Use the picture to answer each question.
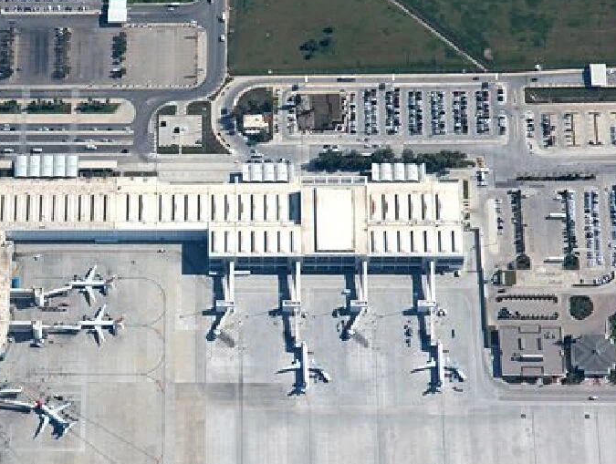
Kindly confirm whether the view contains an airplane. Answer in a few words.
Yes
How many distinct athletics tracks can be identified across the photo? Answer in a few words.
0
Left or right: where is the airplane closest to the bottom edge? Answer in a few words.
left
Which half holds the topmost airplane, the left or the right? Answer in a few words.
left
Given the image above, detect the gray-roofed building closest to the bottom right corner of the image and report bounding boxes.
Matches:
[570,337,616,376]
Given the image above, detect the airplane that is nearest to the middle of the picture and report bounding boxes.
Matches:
[277,343,331,390]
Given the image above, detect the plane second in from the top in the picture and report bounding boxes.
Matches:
[84,306,123,345]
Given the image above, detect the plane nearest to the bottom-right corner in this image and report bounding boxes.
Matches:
[414,343,467,389]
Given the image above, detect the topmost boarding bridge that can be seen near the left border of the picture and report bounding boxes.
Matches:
[13,283,75,309]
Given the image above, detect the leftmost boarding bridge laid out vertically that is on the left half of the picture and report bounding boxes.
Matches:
[214,261,236,339]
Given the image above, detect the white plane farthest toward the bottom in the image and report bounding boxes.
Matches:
[37,393,76,432]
